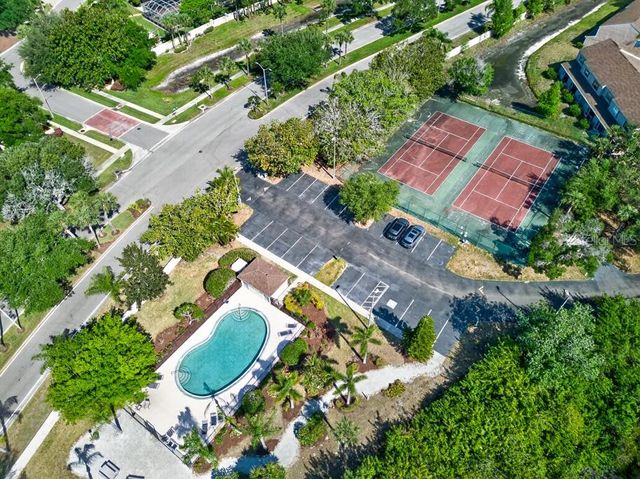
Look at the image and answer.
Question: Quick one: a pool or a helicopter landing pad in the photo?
pool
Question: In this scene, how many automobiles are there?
two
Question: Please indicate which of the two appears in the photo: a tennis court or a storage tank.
tennis court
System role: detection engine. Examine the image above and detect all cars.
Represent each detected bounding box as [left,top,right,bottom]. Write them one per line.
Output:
[386,218,408,241]
[401,225,423,248]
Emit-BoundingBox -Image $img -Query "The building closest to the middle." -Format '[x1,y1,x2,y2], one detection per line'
[235,252,287,298]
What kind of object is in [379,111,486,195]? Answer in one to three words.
tennis court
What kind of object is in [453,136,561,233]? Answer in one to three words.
tennis court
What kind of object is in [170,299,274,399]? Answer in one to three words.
swimming pool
